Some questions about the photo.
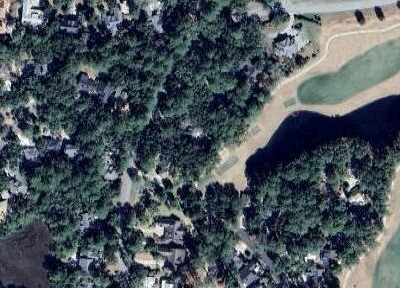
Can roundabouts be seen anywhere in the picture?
No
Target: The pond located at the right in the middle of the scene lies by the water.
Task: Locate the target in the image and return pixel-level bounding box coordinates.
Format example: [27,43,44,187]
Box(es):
[245,94,400,185]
